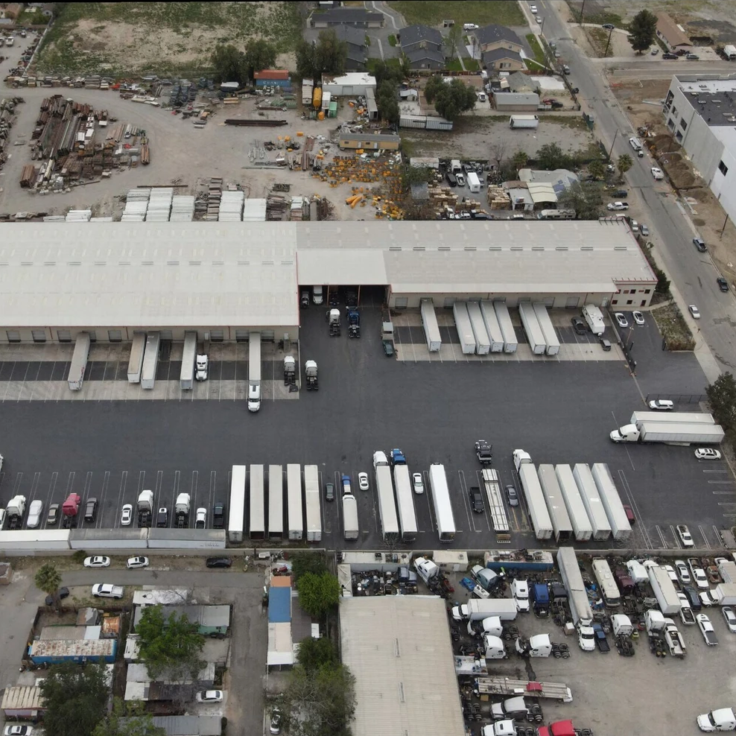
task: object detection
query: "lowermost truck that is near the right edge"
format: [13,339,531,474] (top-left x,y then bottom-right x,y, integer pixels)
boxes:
[692,707,736,731]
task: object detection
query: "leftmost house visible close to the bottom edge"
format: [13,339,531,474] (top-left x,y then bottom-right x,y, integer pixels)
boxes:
[1,688,44,715]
